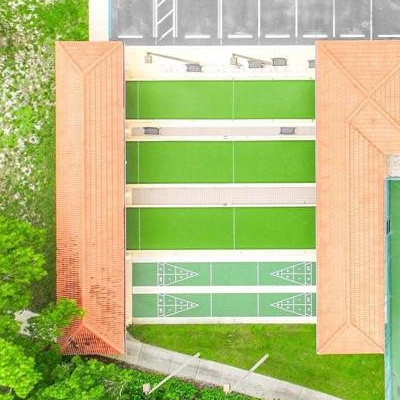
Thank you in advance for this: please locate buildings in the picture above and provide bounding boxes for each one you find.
[55,41,127,356]
[315,40,400,355]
